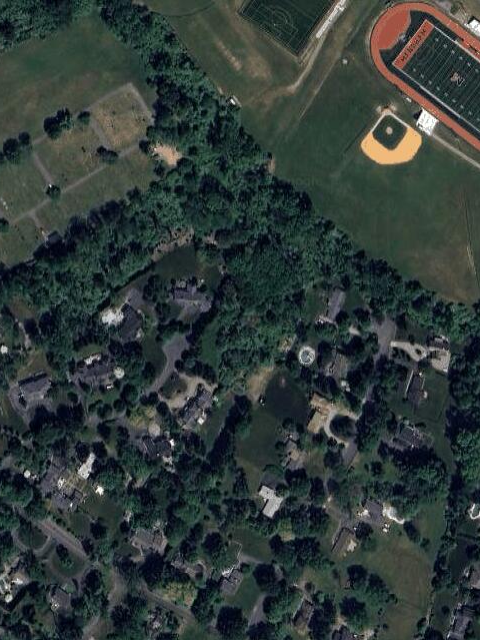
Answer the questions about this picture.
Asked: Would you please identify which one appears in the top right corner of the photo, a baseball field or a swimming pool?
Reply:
baseball field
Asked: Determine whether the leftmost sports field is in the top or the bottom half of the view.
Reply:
top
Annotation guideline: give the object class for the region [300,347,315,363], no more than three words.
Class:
swimming pool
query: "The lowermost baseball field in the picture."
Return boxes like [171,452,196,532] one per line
[361,108,422,165]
